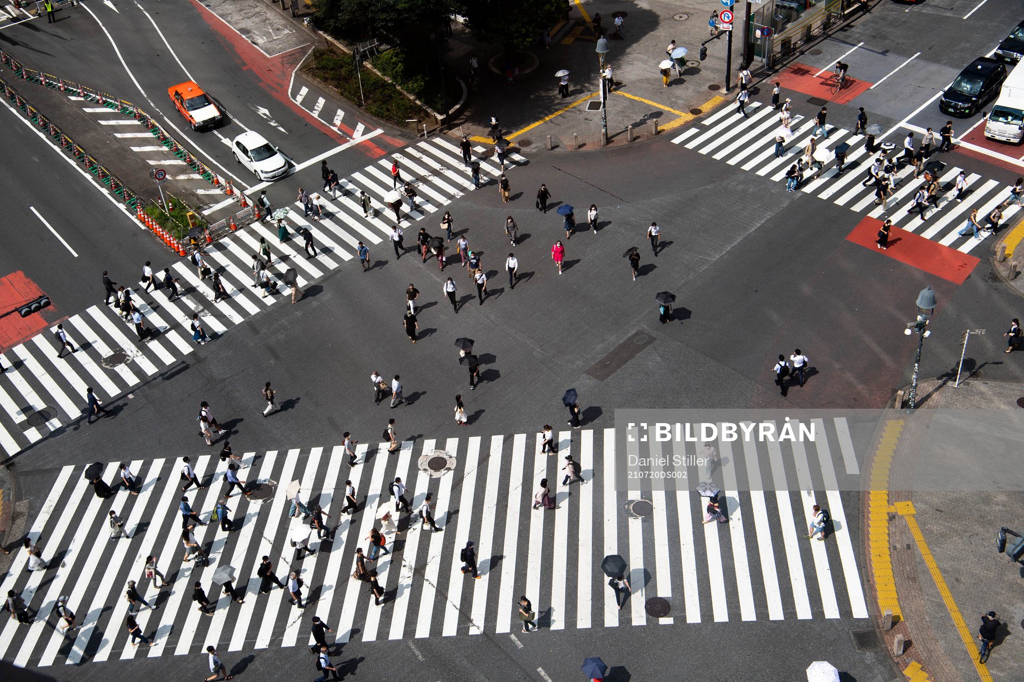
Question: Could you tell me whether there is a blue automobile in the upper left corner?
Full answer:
No, no blue automobile appears in the upper left corner.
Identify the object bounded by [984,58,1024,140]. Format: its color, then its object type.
white truck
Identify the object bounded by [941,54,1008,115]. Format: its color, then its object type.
black car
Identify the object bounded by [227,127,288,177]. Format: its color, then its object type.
white car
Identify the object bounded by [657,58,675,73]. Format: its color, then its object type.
white umbrella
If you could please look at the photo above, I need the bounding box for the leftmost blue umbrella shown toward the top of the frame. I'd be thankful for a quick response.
[556,208,575,223]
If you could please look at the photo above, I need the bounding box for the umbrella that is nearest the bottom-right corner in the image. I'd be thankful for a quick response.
[805,662,843,682]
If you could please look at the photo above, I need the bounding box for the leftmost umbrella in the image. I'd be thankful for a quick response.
[89,461,113,484]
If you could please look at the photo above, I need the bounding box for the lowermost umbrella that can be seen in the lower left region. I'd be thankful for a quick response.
[218,566,242,591]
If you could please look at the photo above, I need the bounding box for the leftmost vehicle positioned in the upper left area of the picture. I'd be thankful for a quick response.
[169,83,225,131]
